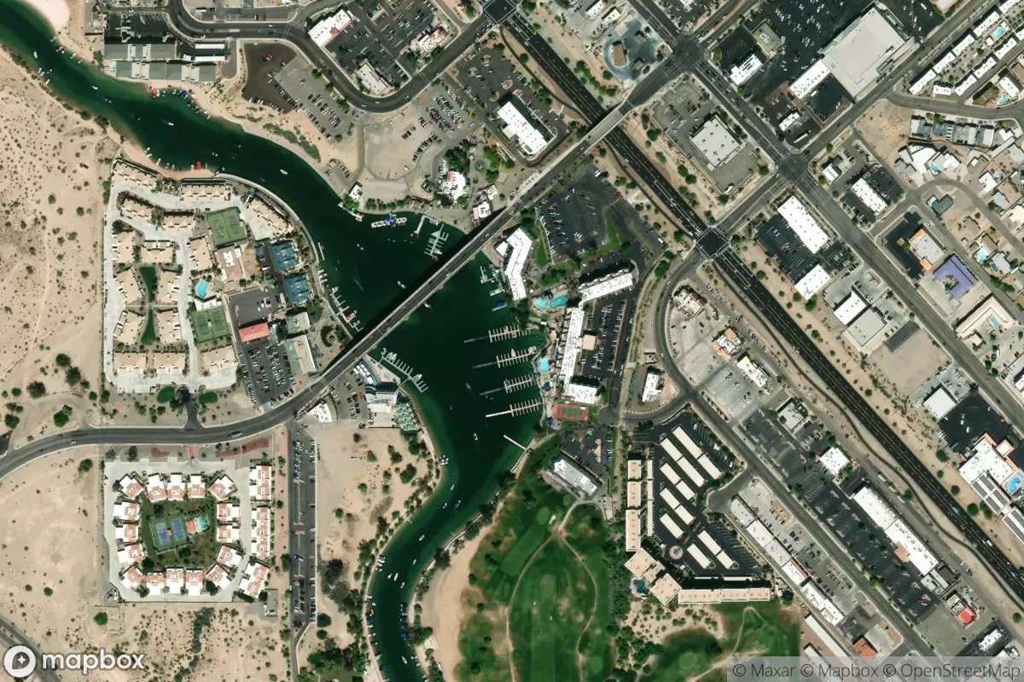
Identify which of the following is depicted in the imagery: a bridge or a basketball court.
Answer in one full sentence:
Visible in the photo is a bridge.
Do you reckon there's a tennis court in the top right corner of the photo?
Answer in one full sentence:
No, the scene shows no tennis court in the top right corner of the photo.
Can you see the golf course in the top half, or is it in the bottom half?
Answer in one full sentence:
Seen from above, the golf course lies in the bottom half of the view.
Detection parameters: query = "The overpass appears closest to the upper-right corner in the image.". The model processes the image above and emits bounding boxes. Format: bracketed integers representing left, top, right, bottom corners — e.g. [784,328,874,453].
[585,109,626,148]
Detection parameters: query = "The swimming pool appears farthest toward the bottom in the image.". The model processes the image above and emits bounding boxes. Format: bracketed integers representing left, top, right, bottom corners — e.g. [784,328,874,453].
[631,577,652,597]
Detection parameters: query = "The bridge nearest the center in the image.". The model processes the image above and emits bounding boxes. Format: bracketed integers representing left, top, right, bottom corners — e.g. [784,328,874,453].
[363,227,494,348]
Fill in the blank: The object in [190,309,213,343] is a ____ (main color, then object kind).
green tennis court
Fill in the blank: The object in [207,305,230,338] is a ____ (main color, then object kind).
green tennis court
